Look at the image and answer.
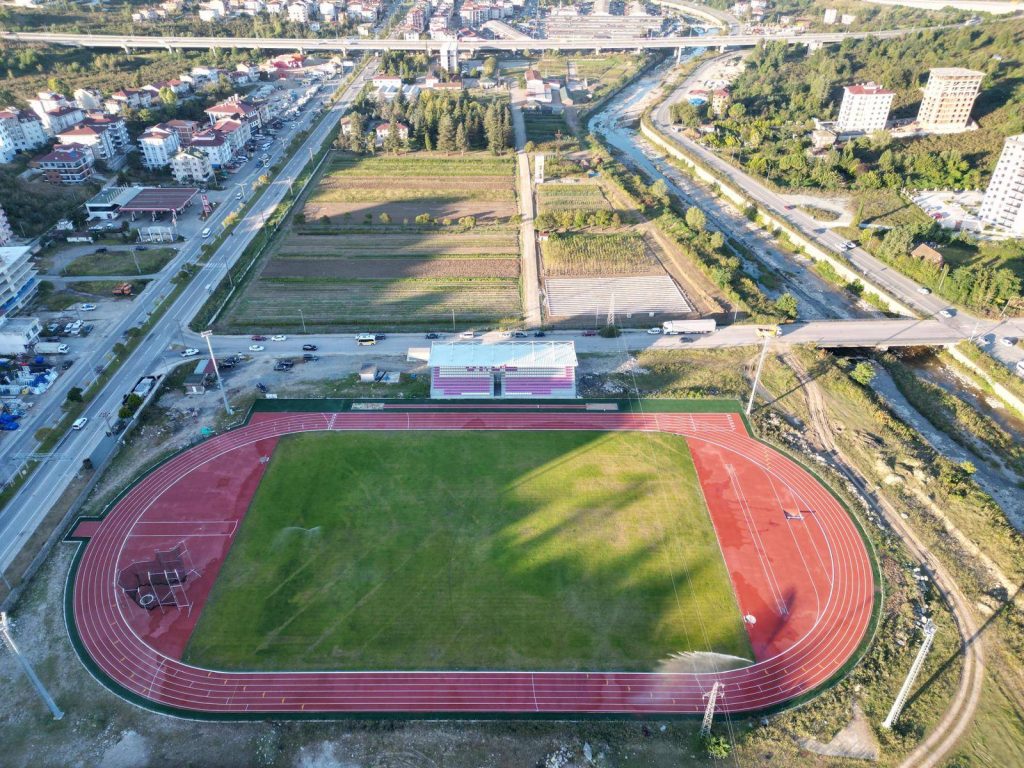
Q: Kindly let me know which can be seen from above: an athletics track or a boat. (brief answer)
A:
athletics track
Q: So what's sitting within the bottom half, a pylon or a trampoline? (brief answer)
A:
pylon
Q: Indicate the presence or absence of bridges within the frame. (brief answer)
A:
Yes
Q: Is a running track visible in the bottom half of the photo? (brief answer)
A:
Yes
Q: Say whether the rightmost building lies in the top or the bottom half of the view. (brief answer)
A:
top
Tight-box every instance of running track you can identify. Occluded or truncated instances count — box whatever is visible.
[73,412,874,712]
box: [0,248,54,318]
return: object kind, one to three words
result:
building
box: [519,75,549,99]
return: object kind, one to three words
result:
house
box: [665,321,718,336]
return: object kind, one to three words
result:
vehicle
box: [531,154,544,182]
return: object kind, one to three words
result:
shed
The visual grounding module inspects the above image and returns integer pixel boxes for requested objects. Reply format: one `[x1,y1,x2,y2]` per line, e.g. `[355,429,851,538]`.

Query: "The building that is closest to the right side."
[975,142,1024,239]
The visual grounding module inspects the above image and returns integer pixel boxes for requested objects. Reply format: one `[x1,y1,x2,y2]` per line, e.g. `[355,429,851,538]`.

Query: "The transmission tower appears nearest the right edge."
[699,685,726,730]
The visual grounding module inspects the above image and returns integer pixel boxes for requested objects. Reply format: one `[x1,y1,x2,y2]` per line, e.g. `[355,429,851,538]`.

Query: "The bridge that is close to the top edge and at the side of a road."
[0,10,1009,62]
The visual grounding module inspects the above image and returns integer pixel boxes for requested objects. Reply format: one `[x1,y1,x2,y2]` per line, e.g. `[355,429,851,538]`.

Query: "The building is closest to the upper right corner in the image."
[910,66,987,127]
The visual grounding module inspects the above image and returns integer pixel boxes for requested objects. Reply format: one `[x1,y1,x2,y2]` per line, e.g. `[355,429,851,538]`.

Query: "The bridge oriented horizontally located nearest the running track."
[785,315,977,353]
